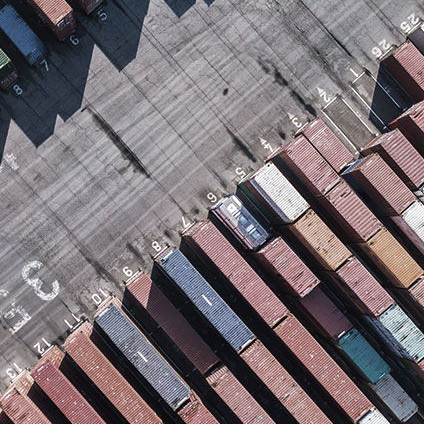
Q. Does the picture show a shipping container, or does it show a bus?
shipping container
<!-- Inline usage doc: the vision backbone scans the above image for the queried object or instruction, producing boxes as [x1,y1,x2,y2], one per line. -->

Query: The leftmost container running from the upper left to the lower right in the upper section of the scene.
[0,4,46,65]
